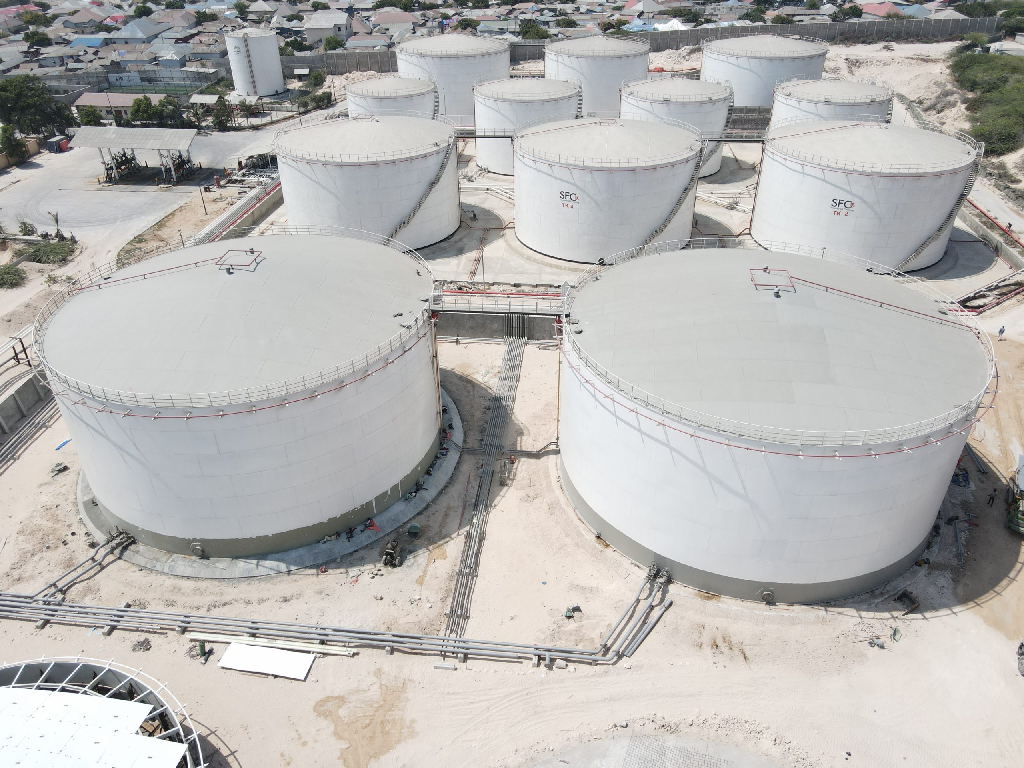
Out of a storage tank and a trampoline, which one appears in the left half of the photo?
storage tank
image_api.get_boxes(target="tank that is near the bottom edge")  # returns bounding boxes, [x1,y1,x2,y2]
[0,648,215,768]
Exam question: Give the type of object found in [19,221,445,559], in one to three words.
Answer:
storage tank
